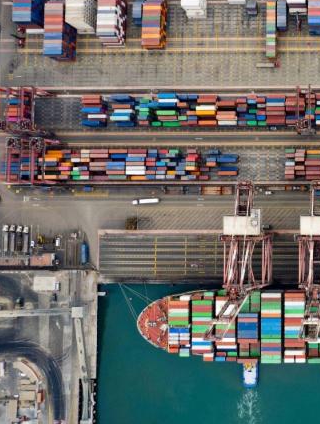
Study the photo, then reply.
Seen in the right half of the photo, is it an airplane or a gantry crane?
gantry crane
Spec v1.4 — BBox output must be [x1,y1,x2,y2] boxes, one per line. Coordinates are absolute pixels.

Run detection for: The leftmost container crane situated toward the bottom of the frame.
[198,177,279,340]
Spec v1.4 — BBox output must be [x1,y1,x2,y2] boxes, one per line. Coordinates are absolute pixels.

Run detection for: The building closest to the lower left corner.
[7,398,20,424]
